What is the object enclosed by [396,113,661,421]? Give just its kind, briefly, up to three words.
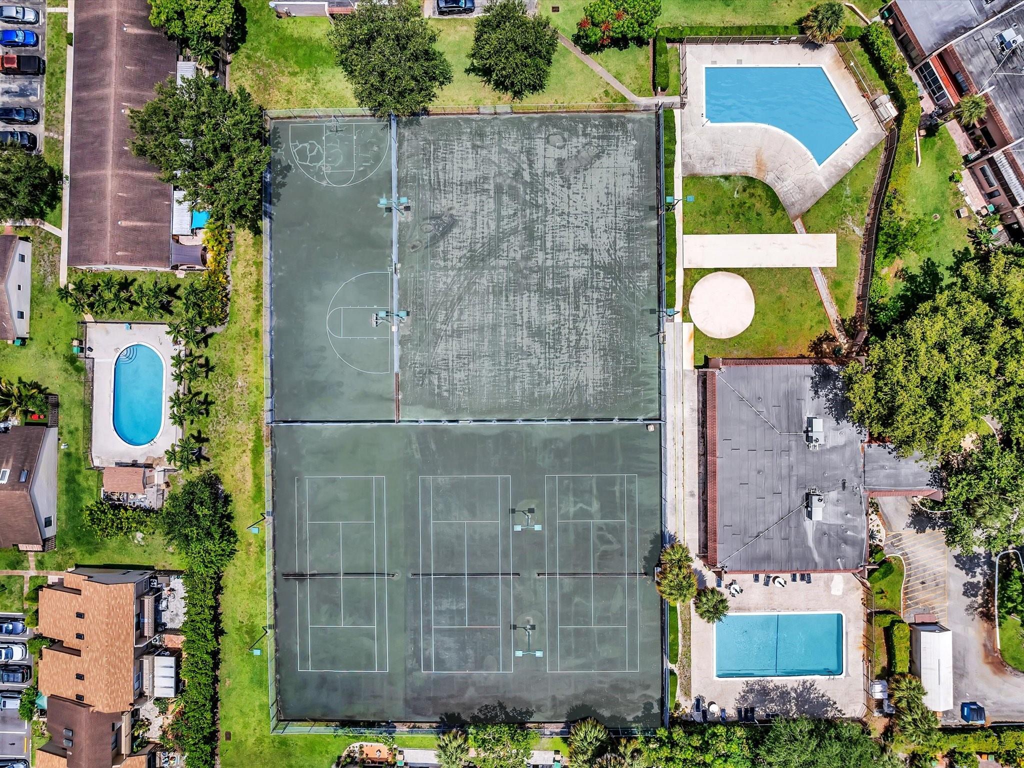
tennis court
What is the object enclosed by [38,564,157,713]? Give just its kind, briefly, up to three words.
house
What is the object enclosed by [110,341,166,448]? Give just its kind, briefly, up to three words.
swimming pool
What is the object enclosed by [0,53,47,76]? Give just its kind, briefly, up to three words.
truck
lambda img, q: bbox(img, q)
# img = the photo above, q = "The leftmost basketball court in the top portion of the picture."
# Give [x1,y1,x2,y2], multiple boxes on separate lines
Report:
[271,115,398,421]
